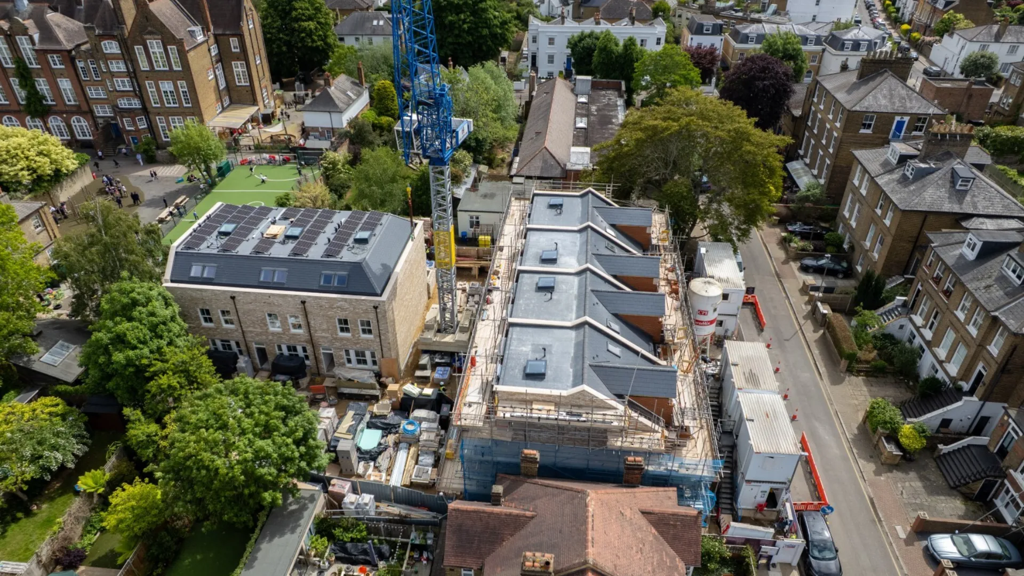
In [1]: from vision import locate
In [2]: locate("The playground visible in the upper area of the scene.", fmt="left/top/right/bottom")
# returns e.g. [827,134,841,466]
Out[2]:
[12,78,306,276]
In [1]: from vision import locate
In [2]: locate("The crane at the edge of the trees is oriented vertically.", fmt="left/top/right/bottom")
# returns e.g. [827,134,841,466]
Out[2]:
[389,0,495,356]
